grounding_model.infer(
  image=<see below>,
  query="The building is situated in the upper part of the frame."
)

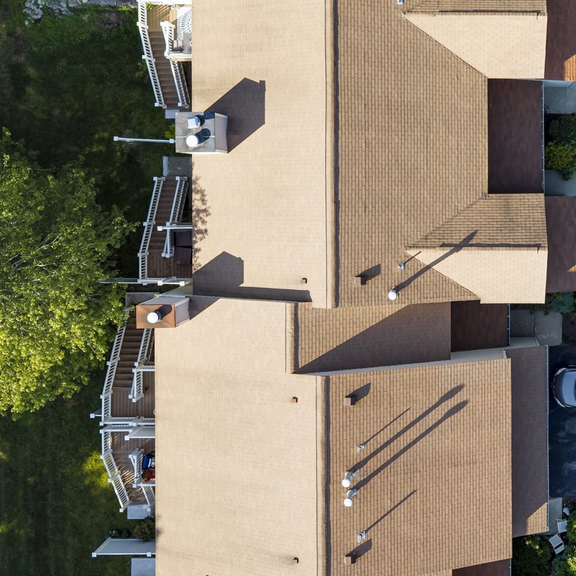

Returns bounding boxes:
[174,0,576,307]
